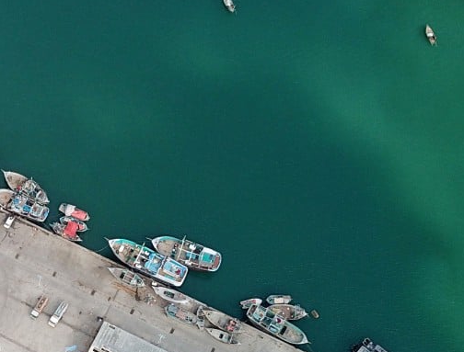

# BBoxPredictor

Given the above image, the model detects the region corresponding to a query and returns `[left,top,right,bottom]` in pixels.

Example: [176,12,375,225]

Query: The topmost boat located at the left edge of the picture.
[0,166,49,206]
